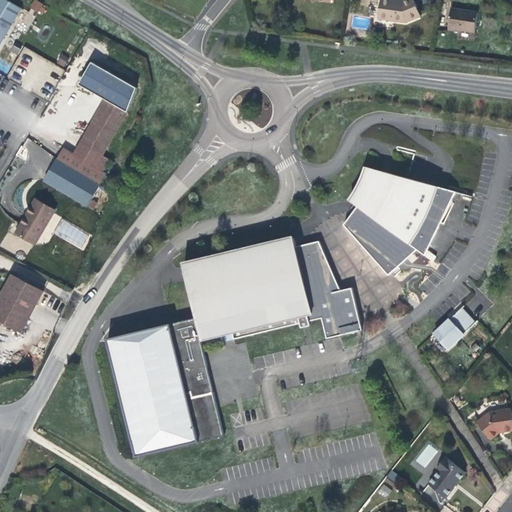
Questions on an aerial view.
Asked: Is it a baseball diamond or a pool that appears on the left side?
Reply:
pool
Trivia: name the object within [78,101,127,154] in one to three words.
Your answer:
barn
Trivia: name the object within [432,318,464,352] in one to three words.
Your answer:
house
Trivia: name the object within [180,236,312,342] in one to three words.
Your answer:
building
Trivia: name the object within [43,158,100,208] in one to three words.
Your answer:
shed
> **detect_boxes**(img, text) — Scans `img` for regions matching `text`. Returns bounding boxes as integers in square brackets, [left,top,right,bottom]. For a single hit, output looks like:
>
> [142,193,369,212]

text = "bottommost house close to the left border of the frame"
[0,274,44,334]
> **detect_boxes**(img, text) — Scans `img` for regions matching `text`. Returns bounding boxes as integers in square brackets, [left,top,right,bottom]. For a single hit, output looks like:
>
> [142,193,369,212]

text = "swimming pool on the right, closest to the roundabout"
[352,16,370,30]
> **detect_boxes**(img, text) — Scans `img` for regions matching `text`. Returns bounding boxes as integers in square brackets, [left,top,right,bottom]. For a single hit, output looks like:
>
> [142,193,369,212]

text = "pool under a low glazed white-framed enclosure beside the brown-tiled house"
[55,218,91,250]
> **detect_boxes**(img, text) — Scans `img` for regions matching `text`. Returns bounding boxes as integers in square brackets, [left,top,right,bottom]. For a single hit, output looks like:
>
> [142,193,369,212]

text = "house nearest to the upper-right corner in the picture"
[446,2,480,34]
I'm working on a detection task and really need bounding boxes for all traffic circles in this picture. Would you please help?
[205,67,309,152]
